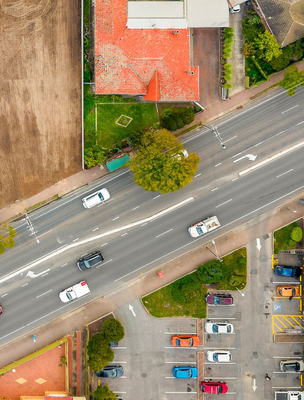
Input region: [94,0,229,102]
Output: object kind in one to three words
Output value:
house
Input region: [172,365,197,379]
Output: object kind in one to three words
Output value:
car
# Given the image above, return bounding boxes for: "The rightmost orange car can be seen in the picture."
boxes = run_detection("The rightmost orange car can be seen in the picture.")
[275,284,300,297]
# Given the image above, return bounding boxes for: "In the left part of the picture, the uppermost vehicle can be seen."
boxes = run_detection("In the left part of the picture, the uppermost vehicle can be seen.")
[82,188,109,209]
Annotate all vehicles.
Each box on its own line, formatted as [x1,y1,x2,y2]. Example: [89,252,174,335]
[205,292,233,306]
[107,339,123,351]
[280,359,304,372]
[206,320,232,333]
[60,280,92,302]
[82,188,109,209]
[200,380,228,394]
[275,389,304,400]
[274,264,302,278]
[96,365,123,378]
[172,365,197,379]
[171,334,198,348]
[76,251,105,270]
[275,284,300,297]
[207,349,231,362]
